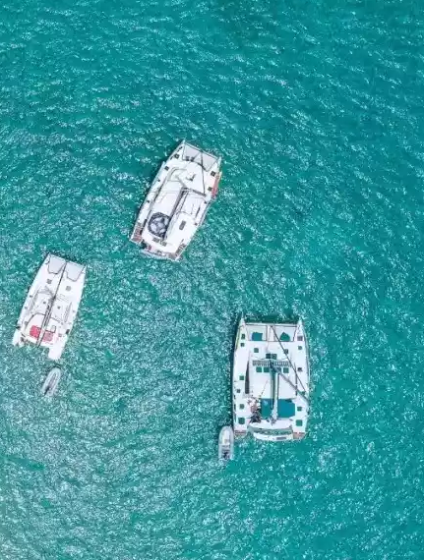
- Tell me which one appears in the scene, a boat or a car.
boat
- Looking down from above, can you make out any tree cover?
No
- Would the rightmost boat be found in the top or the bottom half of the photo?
bottom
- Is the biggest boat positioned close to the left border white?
Yes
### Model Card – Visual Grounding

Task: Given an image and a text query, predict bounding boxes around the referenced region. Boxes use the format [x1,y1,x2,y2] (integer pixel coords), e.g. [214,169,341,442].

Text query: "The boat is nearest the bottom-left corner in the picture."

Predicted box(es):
[40,367,58,399]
